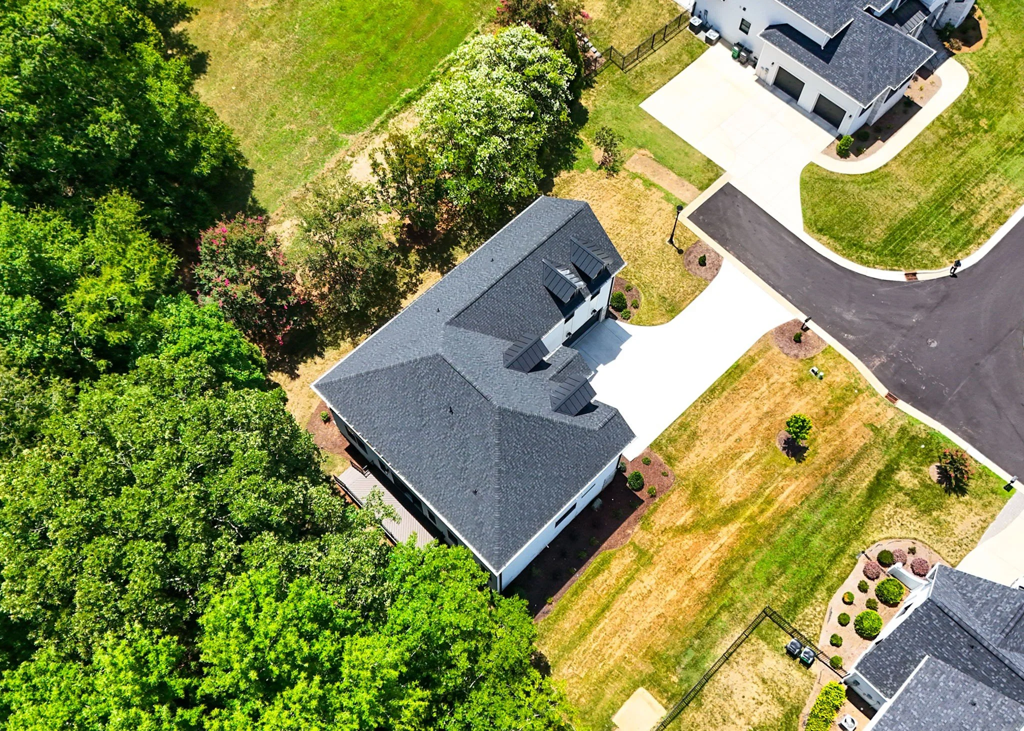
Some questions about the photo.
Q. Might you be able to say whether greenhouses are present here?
No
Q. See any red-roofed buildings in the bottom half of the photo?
No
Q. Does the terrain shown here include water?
No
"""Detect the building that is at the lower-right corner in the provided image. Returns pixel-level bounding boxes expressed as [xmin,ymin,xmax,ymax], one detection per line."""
[842,563,1024,731]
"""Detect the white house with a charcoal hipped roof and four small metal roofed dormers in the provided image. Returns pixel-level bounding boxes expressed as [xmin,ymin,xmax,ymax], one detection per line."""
[308,193,639,593]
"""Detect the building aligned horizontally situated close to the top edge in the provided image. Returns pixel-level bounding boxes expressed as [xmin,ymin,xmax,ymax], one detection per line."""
[687,0,978,134]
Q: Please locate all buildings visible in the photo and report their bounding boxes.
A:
[687,0,978,134]
[308,193,639,593]
[842,563,1024,731]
